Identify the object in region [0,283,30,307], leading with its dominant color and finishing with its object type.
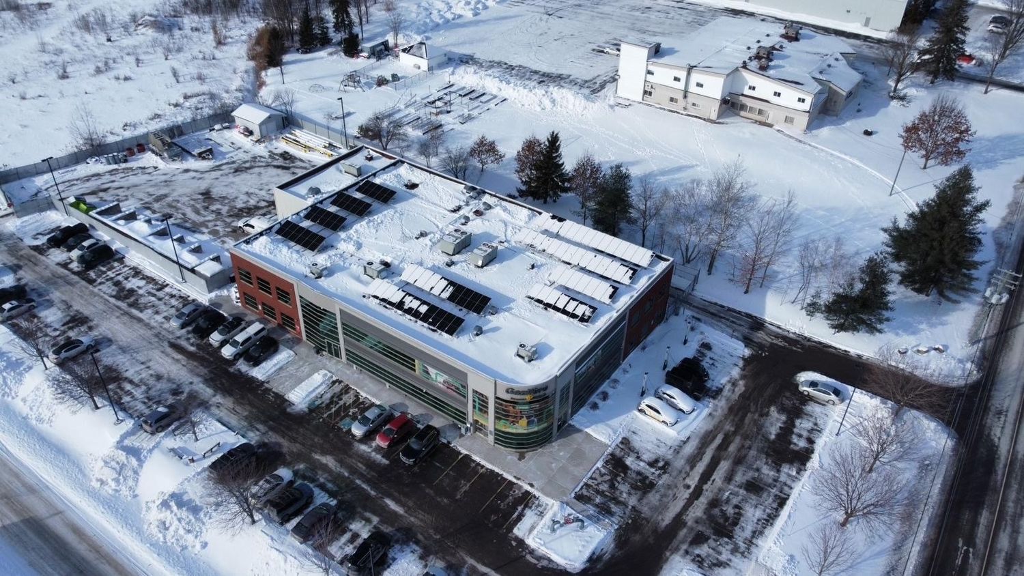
black car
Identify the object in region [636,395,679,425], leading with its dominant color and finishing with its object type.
white car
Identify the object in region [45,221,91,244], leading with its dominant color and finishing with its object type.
black truck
